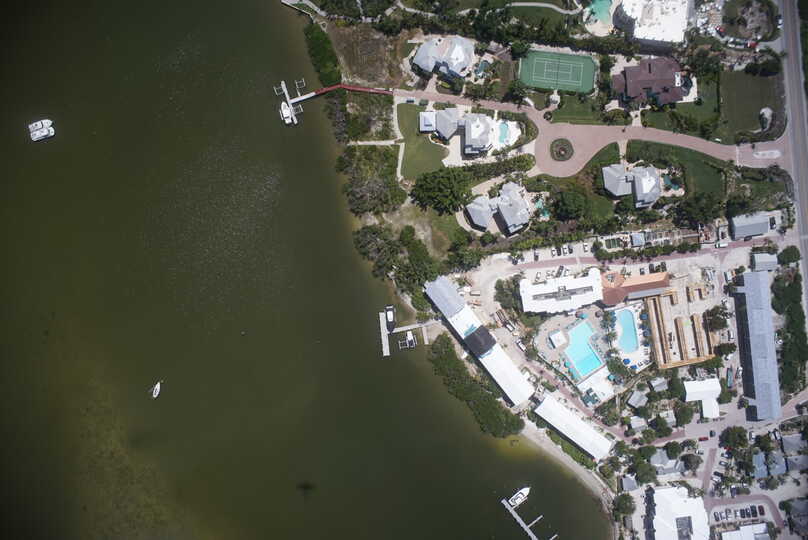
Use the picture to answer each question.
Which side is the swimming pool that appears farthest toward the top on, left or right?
right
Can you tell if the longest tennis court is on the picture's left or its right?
right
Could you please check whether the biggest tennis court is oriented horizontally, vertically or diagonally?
horizontally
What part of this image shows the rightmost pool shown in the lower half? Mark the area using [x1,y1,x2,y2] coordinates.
[604,301,652,372]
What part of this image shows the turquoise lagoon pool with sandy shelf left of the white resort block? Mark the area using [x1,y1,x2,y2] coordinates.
[584,0,614,36]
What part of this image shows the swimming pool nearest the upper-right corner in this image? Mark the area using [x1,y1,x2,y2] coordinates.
[676,69,698,103]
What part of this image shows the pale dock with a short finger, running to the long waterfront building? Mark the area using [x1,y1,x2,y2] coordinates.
[379,313,438,356]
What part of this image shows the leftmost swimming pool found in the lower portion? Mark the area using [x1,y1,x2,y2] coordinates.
[534,305,611,384]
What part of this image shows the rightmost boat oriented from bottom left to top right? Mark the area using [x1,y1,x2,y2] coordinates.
[506,487,526,506]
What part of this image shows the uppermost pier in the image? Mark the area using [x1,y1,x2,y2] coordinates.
[281,81,394,124]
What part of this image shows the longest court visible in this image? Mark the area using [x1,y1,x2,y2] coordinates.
[520,47,597,92]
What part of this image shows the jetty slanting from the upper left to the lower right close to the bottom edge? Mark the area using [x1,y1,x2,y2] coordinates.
[500,497,557,540]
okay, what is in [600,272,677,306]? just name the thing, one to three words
building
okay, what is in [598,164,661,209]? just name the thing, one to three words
house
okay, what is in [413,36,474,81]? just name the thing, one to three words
house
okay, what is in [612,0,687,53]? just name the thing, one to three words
building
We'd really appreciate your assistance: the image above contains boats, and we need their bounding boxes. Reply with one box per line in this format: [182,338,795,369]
[28,129,55,141]
[152,382,161,398]
[386,305,395,332]
[27,119,54,130]
[506,487,526,506]
[282,103,293,125]
[408,332,414,348]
